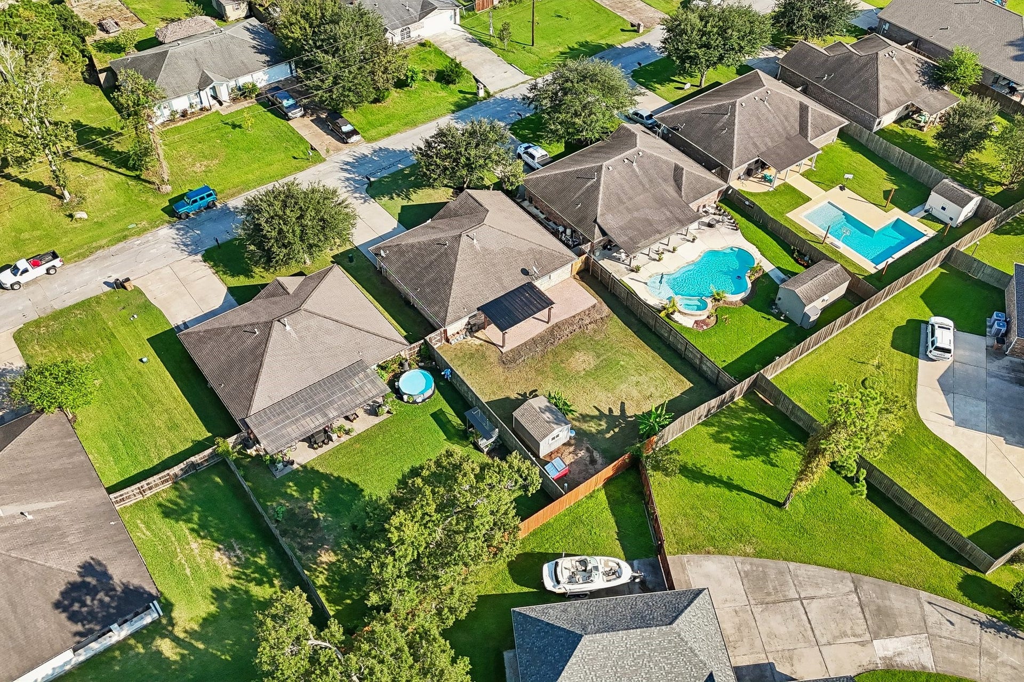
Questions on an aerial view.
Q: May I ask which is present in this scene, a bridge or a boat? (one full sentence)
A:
There is a boat in the scene.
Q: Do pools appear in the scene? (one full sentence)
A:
Yes, there's a pool down there.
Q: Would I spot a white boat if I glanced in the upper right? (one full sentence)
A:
No, the scene shows no white boat in the upper right.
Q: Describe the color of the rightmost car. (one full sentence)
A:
The color of the rightmost car is white.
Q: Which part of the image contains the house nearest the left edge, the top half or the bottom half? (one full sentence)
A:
You can find the house nearest the left edge in the bottom half.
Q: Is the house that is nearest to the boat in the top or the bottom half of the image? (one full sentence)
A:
It is in the bottom half that the house that is nearest to the boat appears.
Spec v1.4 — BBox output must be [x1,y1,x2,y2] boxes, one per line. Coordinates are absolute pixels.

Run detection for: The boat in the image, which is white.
[543,551,633,588]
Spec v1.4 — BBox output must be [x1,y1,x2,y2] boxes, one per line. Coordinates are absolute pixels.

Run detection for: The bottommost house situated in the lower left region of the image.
[0,398,168,682]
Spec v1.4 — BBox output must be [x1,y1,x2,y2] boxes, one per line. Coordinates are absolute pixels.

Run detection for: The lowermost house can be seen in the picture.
[511,587,735,682]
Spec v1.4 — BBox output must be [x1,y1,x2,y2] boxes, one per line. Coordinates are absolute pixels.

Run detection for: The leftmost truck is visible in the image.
[0,247,64,288]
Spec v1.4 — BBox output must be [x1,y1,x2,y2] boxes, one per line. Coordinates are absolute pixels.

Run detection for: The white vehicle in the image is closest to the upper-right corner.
[925,312,955,357]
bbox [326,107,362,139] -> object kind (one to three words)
truck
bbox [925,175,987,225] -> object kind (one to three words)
shed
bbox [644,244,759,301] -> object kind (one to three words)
swimming pool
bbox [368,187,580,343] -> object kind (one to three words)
house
